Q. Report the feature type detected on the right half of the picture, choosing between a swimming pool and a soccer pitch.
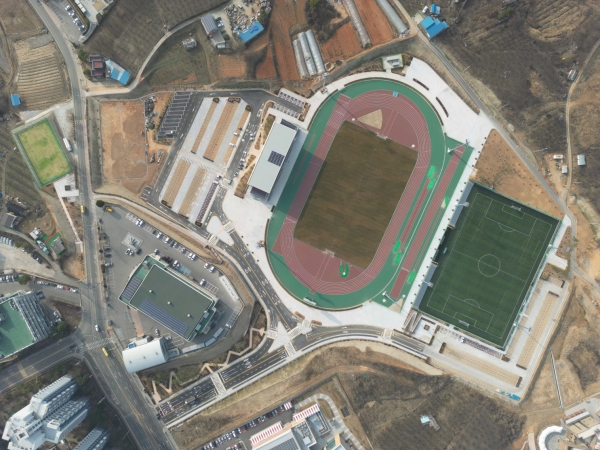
soccer pitch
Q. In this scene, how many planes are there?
zero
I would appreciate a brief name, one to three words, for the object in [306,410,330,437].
building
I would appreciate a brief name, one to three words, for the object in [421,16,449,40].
house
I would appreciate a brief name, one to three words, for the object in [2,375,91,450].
building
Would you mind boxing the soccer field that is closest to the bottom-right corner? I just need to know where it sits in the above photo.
[419,183,561,349]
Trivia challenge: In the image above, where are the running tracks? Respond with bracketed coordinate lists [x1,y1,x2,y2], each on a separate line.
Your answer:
[265,80,475,313]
